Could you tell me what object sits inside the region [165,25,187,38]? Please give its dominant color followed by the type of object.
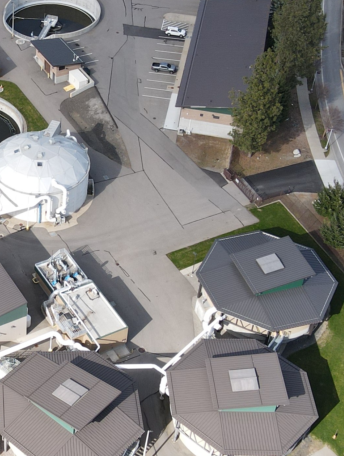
white vehicle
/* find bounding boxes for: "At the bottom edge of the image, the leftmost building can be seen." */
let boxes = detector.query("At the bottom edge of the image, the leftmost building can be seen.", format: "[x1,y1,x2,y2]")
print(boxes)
[0,350,145,456]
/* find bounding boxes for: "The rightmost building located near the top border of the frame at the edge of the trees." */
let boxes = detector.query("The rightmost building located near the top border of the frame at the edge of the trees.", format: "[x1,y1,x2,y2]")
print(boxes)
[175,0,270,132]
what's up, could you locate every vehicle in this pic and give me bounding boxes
[150,61,178,75]
[165,25,187,38]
